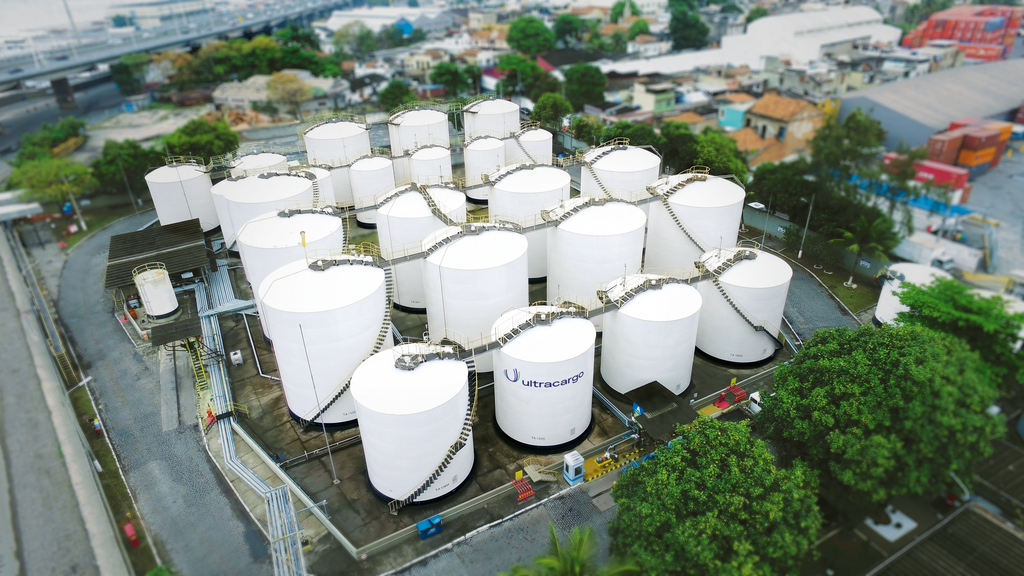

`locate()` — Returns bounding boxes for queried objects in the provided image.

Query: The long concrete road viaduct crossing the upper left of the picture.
[0,0,342,118]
